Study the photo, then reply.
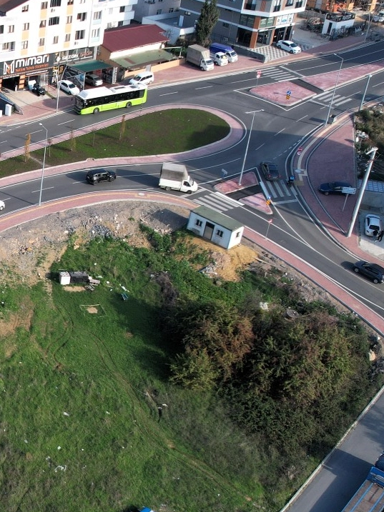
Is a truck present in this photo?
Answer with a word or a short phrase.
Yes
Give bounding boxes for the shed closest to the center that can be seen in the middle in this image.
[187,200,252,246]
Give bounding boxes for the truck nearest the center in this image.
[155,164,203,194]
